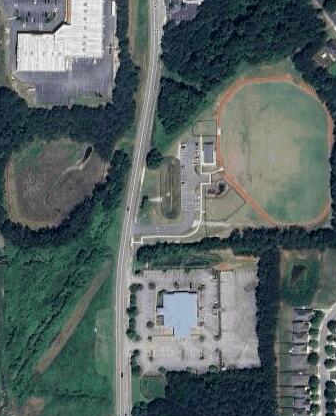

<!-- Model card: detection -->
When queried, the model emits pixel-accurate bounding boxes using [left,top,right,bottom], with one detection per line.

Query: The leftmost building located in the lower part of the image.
[155,293,198,337]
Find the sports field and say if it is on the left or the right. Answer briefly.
right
